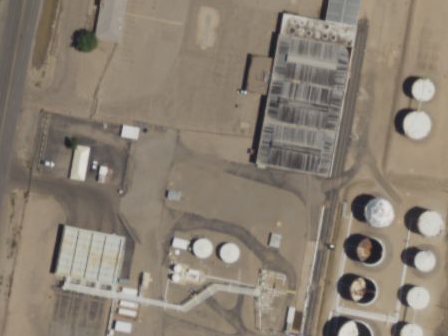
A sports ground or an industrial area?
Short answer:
industrial area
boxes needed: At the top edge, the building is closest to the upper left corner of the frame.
[96,0,128,43]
